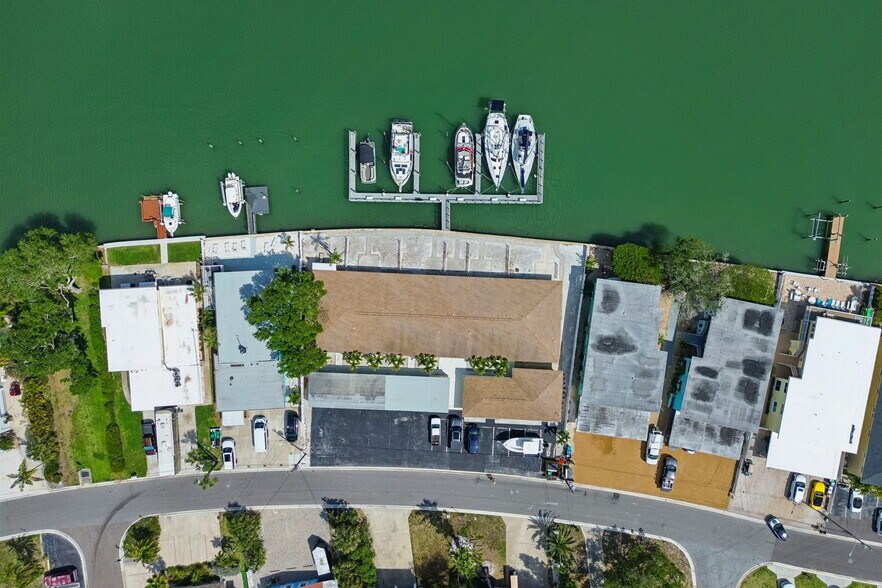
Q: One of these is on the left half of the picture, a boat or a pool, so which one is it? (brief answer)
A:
boat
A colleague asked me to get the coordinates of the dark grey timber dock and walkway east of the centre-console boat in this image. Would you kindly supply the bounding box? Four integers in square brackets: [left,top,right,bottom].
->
[243,186,270,235]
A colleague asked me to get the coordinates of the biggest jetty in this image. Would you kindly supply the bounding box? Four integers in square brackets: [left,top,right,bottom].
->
[348,129,546,231]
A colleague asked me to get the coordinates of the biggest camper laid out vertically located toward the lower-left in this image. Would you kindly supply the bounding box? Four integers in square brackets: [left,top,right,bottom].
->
[156,406,182,475]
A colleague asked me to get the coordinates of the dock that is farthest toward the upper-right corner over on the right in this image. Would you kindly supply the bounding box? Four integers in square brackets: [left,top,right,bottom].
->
[821,213,854,277]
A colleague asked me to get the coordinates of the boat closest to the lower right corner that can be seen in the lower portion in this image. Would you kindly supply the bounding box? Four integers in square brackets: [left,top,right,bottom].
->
[500,437,548,455]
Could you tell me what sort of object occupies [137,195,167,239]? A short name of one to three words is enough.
pier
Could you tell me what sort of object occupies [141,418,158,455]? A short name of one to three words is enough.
vehicle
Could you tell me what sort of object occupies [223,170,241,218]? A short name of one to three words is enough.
boat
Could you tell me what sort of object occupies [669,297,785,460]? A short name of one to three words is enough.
house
